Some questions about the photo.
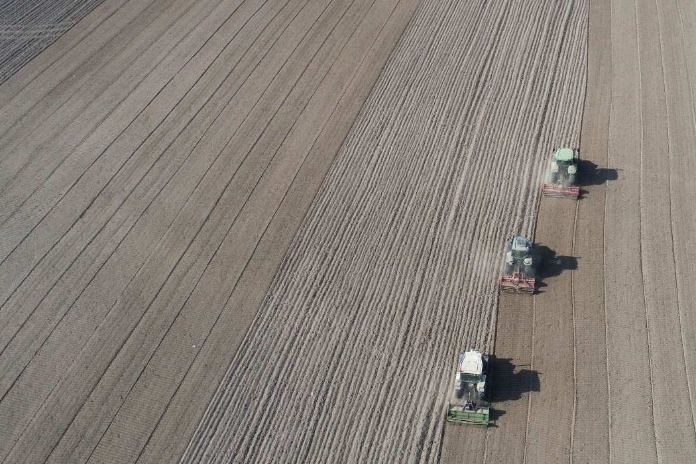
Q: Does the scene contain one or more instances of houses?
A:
No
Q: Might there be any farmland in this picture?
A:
Yes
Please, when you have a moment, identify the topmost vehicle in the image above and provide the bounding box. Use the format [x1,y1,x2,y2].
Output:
[550,147,580,183]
